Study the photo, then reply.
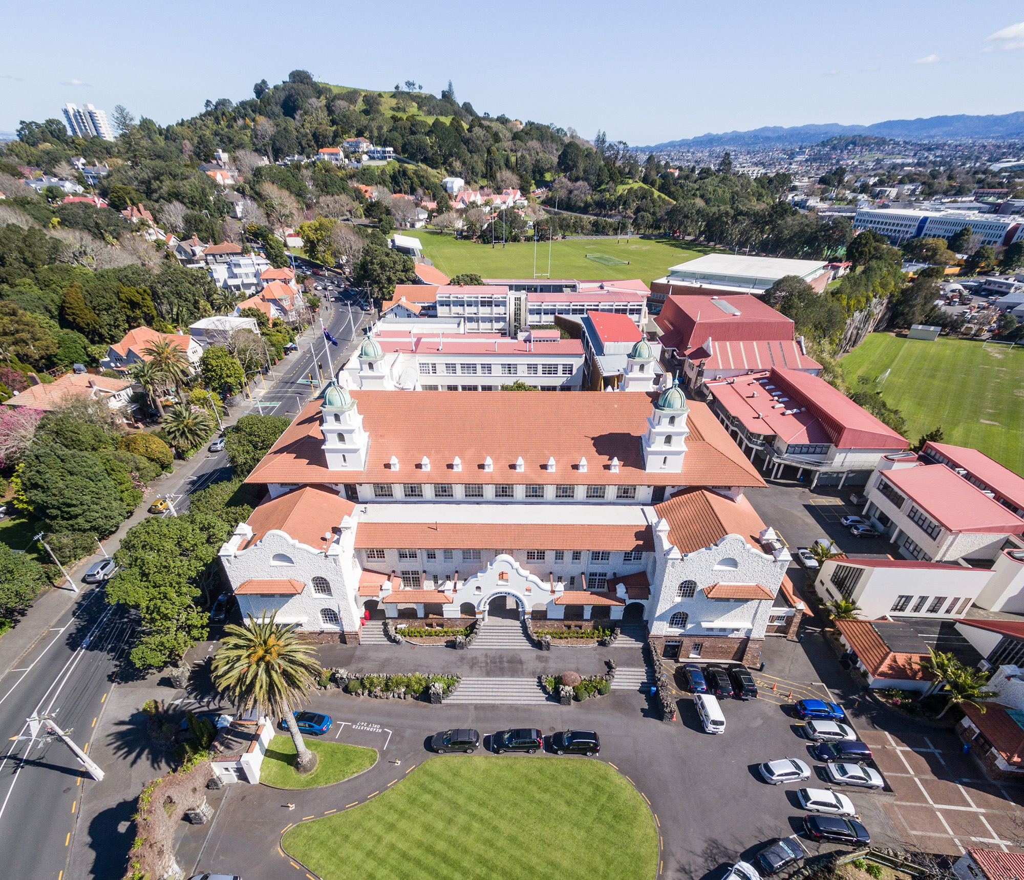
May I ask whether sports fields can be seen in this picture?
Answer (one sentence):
Yes, a sports field is visible in the scene.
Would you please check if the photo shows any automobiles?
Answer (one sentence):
Yes, an automobile appears in the view.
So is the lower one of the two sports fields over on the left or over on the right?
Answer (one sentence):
The lower one of the two sports fields is on the right side of the image.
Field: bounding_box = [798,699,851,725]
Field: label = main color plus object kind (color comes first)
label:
blue car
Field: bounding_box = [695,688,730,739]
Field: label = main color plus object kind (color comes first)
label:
white vehicle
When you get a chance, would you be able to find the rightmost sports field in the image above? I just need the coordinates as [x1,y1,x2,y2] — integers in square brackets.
[840,333,1024,460]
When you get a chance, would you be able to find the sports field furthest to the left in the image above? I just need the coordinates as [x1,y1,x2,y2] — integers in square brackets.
[361,227,736,289]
